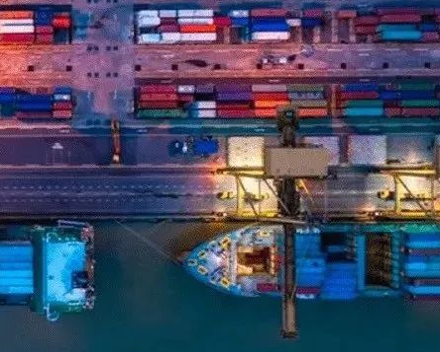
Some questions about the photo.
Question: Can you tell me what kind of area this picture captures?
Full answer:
The area seen from above is a port.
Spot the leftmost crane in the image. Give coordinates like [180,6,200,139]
[216,108,330,342]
